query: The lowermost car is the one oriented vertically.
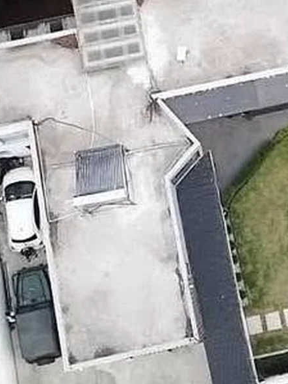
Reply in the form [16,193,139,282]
[8,264,64,372]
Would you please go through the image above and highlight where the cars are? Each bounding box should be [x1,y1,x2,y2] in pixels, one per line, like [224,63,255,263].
[8,264,64,372]
[0,171,47,255]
